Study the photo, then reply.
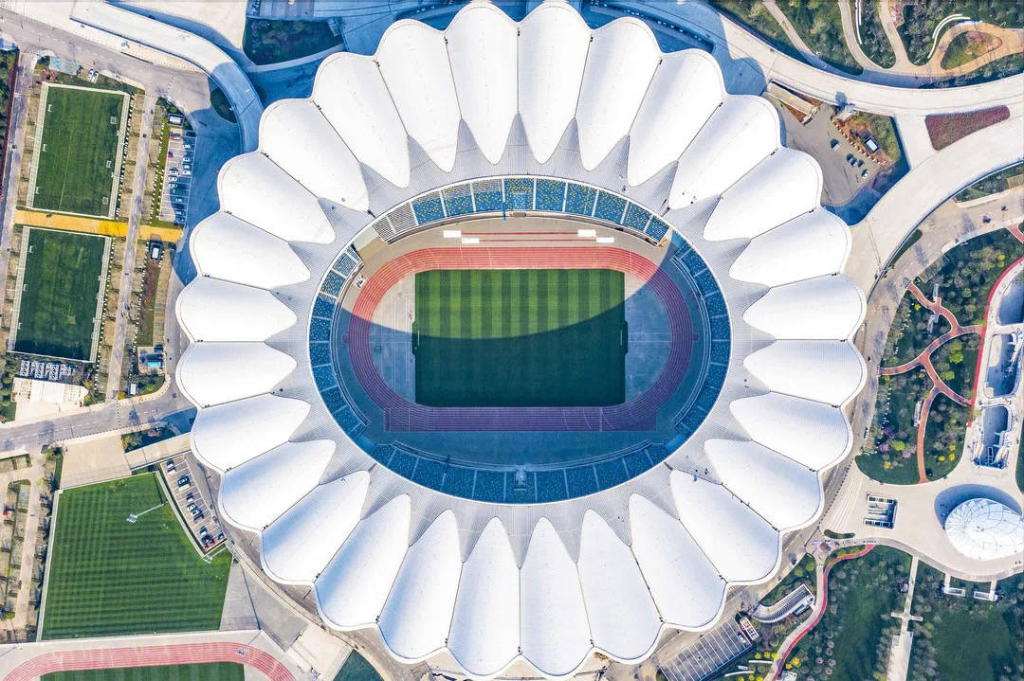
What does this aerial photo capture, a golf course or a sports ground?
sports ground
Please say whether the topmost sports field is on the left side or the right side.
left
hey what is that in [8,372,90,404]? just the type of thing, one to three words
building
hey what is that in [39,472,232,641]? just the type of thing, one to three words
sports field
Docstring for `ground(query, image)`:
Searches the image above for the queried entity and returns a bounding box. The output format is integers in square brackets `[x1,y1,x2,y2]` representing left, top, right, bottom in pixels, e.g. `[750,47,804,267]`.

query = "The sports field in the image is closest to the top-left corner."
[23,80,130,219]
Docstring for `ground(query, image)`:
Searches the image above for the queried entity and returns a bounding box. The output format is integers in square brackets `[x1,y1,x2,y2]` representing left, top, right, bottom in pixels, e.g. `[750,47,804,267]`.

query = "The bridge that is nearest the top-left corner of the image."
[68,0,265,149]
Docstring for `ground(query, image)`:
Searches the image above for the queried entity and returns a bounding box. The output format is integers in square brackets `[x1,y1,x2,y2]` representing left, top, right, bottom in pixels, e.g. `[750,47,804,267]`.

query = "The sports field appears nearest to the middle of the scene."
[414,269,628,407]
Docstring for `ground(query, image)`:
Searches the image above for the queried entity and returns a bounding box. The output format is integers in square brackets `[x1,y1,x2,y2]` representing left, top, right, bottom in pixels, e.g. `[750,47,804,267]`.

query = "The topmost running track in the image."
[341,248,701,433]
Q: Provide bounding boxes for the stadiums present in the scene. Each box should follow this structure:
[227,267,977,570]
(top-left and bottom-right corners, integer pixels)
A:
[175,1,865,680]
